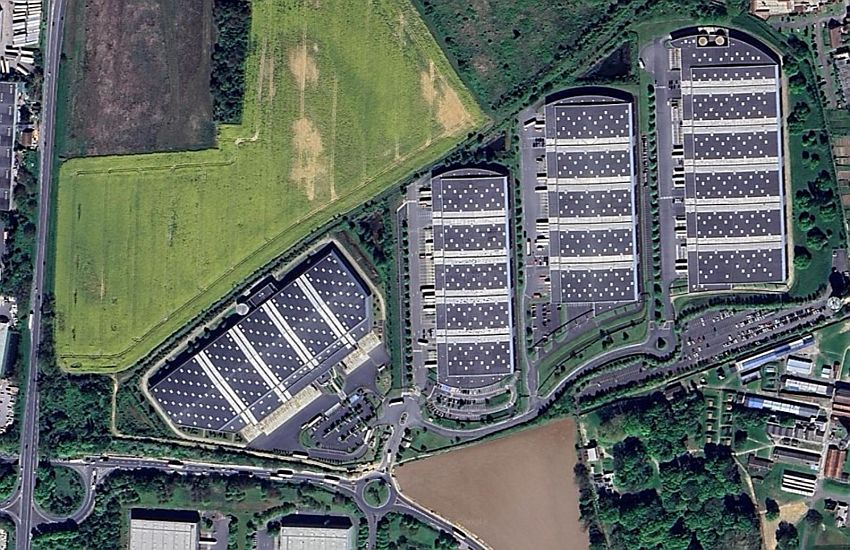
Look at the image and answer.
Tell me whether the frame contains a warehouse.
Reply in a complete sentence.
Yes, a warehouse appears in the view.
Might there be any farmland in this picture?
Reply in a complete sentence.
Yes, there's farmland in this view.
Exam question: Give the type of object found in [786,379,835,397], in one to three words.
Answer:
shed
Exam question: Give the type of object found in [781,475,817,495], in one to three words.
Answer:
building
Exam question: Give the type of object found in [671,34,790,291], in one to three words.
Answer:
warehouse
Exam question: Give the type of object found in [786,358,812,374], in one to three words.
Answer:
building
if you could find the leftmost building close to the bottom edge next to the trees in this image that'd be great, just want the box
[129,516,200,550]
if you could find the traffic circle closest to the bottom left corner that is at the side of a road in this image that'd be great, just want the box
[356,474,398,515]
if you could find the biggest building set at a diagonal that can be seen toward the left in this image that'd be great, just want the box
[150,248,374,432]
